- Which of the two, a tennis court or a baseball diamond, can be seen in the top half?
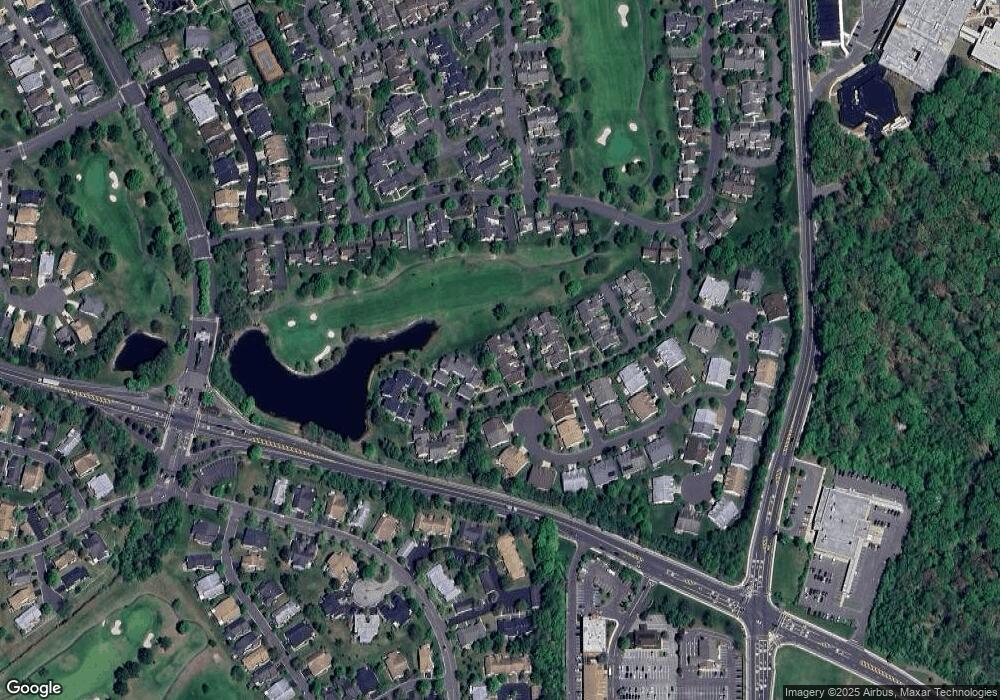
tennis court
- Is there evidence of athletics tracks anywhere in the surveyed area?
No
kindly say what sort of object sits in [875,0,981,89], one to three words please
building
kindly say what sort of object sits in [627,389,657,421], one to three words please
house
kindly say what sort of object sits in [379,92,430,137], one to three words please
house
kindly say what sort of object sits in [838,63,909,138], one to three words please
building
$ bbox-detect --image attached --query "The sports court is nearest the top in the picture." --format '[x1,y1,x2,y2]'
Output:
[232,5,264,46]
